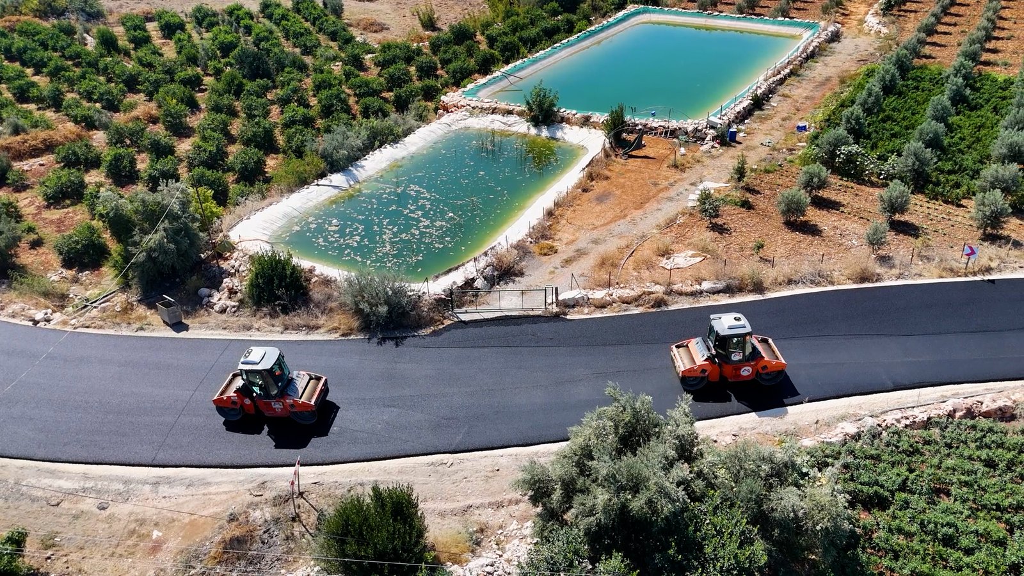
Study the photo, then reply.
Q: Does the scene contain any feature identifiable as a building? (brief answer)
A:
No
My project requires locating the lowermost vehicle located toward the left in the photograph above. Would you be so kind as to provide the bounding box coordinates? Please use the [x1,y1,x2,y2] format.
[208,346,329,422]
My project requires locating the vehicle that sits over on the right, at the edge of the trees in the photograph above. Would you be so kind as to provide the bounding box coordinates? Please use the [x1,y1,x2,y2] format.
[665,313,787,393]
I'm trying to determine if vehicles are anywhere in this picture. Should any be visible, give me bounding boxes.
[665,313,787,393]
[208,346,329,422]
